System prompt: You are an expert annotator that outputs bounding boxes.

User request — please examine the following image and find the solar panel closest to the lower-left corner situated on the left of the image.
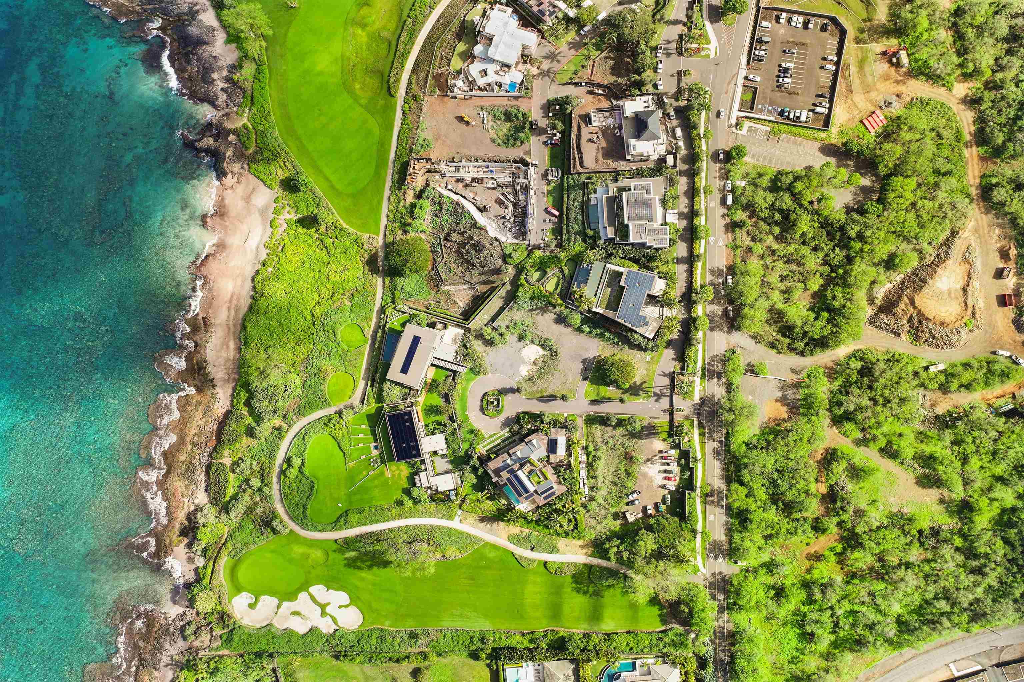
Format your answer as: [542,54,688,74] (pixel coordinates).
[387,411,421,461]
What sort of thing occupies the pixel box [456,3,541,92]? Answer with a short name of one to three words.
house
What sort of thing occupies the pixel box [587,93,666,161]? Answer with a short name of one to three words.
house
